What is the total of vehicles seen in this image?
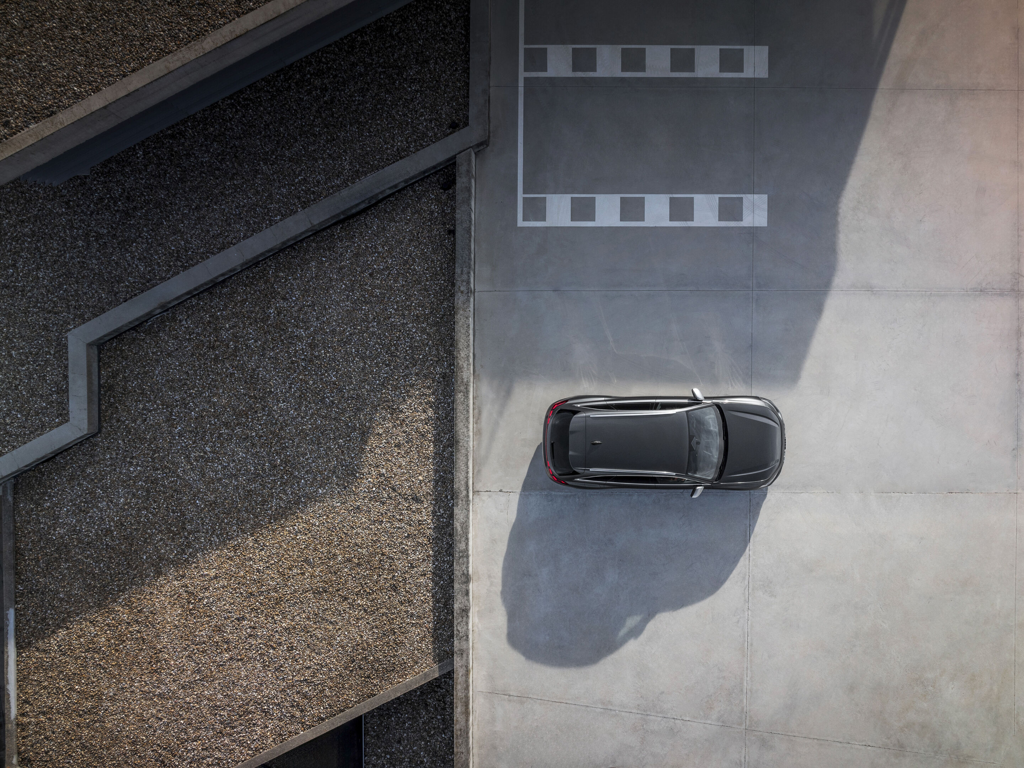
1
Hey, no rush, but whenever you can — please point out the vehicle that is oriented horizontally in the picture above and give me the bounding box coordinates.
[542,388,787,497]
